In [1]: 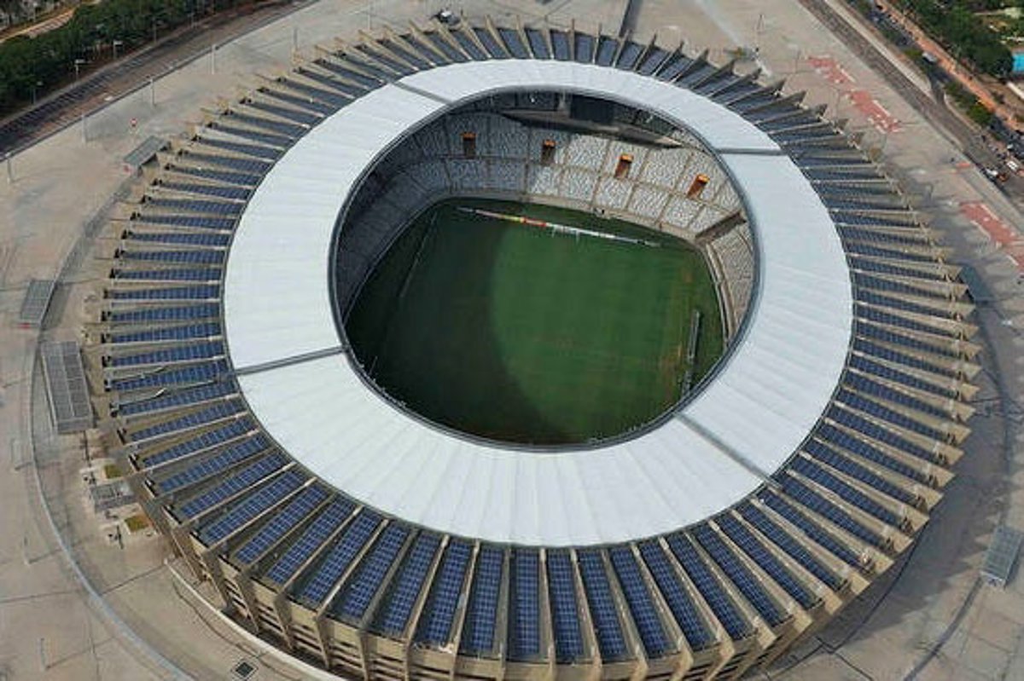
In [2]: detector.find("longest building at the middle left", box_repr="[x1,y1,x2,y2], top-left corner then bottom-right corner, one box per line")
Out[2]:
[39,340,96,442]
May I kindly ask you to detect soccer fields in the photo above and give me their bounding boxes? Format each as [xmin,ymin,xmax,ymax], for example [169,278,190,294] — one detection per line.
[345,195,724,443]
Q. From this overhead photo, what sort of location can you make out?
sports ground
